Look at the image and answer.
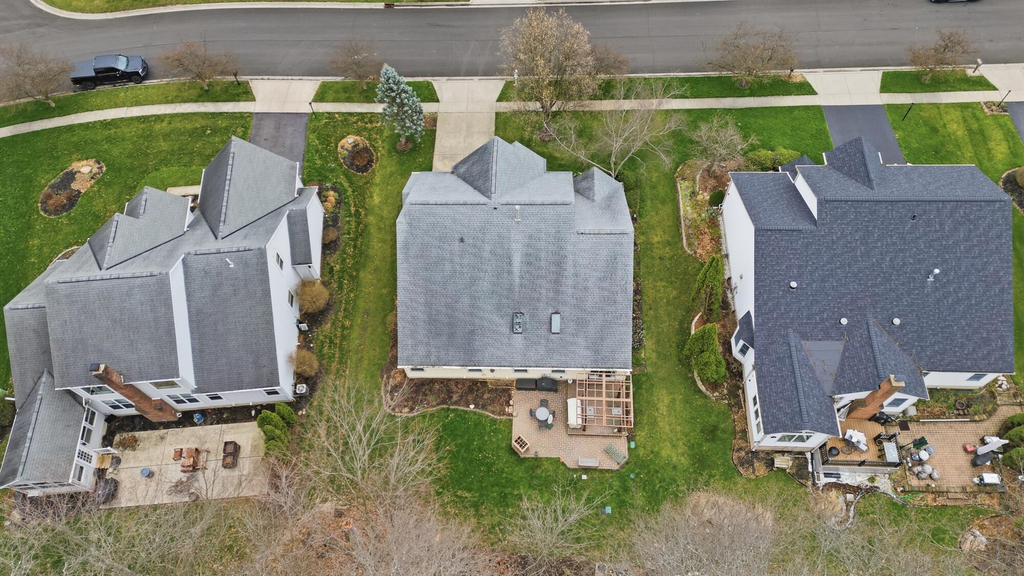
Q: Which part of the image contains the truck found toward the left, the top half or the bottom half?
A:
top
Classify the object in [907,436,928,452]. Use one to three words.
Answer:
umbrella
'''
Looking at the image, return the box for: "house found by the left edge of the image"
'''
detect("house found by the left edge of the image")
[0,137,321,495]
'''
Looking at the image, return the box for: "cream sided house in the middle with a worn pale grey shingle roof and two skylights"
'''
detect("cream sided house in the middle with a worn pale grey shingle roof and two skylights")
[396,137,633,380]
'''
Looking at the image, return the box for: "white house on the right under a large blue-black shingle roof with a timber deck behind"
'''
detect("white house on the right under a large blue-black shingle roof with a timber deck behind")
[707,138,1014,470]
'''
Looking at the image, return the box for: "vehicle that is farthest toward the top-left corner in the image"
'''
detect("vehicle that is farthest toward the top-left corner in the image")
[67,53,151,93]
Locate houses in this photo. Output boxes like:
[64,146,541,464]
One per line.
[396,137,633,380]
[707,138,1014,470]
[0,137,321,495]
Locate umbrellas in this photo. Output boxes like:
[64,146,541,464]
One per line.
[973,437,1013,457]
[545,417,554,430]
[907,436,928,452]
